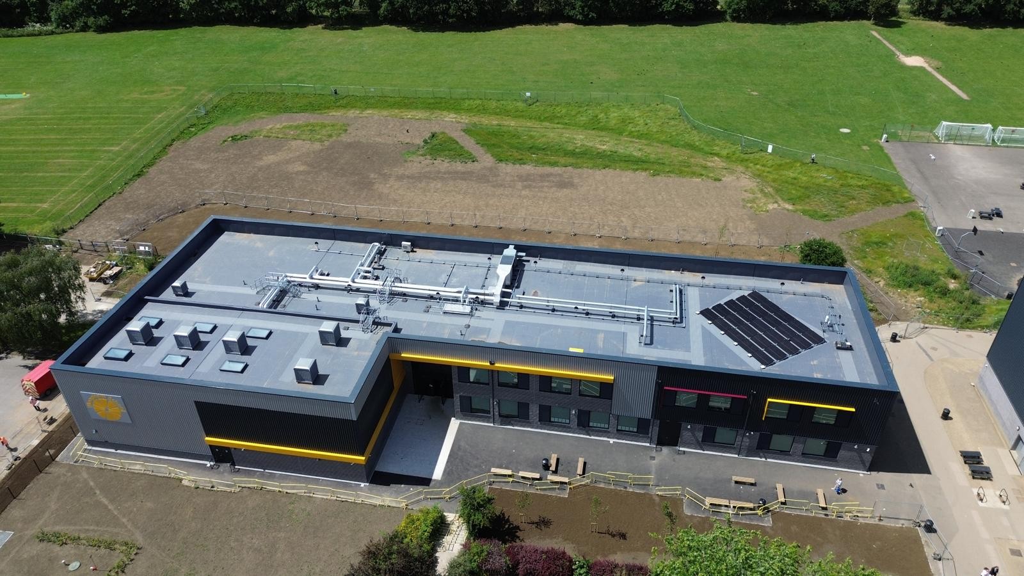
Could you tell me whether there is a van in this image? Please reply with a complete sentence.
Yes, I can see a van in this picture.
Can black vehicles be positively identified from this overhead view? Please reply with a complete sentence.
No, there is no black vehicle in the image.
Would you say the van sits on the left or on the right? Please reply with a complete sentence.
It is on the left.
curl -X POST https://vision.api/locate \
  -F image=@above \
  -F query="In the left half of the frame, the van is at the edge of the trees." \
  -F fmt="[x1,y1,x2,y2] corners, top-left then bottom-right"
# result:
[20,357,58,398]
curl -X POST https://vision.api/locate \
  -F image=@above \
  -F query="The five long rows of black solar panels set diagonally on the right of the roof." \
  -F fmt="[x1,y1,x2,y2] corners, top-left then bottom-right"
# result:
[694,292,826,371]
